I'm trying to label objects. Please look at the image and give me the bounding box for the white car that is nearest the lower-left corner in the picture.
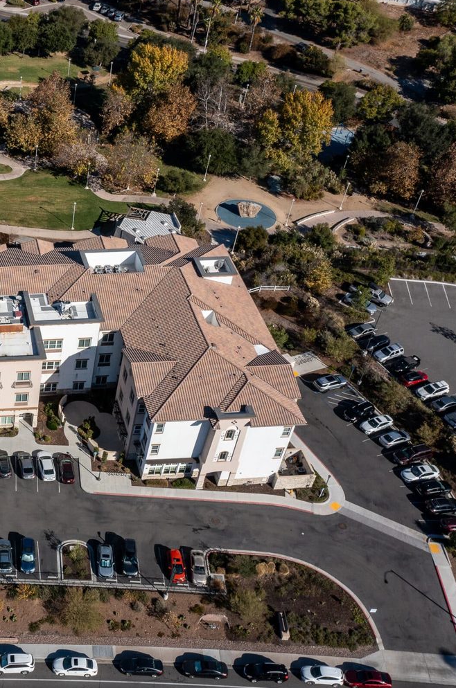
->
[0,652,35,676]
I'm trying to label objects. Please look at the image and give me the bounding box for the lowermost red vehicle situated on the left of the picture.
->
[166,550,187,585]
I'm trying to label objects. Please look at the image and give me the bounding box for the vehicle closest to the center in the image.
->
[311,375,349,395]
